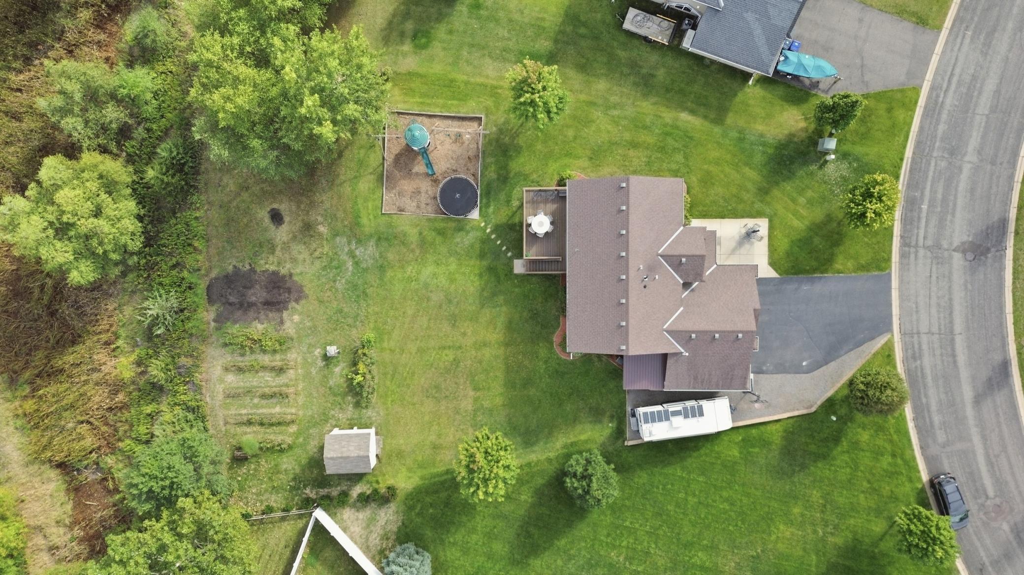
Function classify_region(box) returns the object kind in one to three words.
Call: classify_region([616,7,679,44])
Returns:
trailer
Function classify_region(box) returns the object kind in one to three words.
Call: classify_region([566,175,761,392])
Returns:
house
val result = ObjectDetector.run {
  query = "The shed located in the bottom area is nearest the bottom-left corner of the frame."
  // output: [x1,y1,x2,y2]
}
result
[323,424,385,474]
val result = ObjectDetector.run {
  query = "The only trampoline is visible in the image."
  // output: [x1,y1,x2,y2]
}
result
[438,176,479,216]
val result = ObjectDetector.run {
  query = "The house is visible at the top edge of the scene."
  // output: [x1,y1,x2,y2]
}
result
[629,0,802,84]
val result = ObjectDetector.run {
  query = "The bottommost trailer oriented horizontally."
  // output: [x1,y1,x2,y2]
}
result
[627,392,733,442]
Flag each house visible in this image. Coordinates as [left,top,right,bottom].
[566,175,761,392]
[629,0,802,84]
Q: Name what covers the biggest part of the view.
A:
grass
